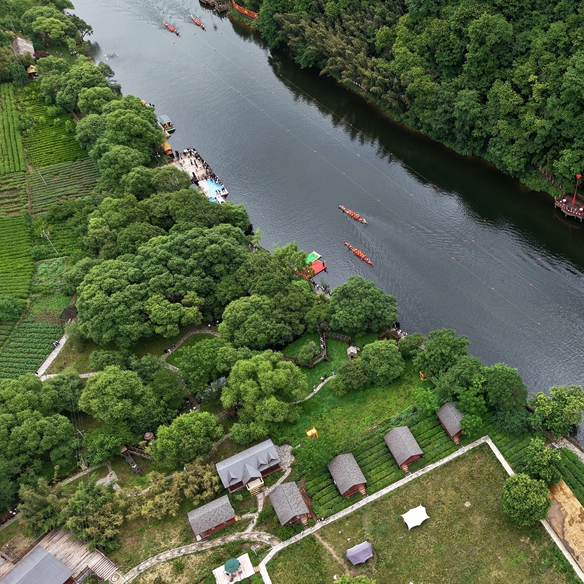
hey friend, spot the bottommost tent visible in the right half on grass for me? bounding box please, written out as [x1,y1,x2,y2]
[346,541,376,568]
